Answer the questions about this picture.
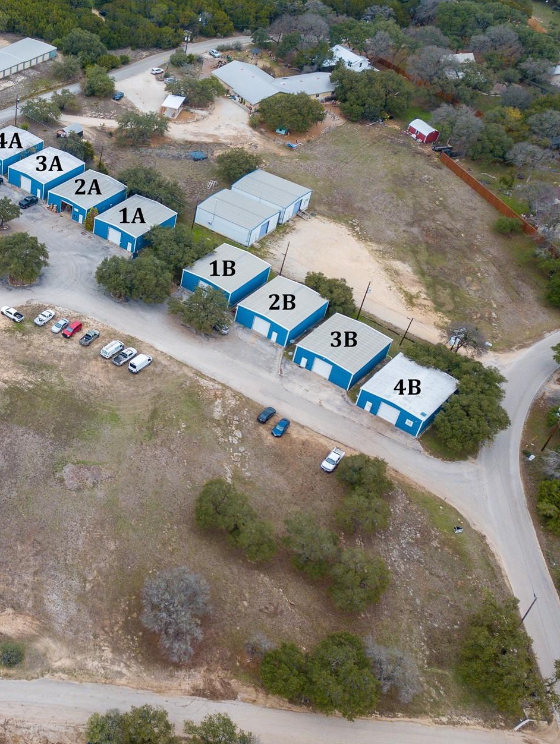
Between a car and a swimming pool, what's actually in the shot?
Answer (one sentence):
Looking from above, you can make out a car.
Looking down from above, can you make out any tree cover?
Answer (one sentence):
Yes, the picture does contain tree cover.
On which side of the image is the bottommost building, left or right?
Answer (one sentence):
You can find the bottommost building on the right side of the picture.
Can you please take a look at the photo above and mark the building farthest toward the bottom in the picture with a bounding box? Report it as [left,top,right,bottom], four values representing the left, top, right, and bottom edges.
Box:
[354,353,458,437]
